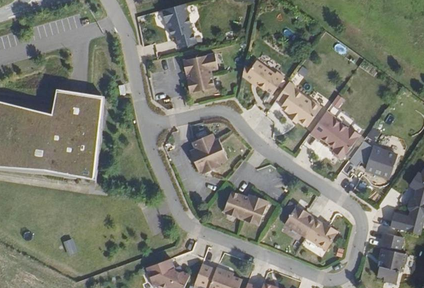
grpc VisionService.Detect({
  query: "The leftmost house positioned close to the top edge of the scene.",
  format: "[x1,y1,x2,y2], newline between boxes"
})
[160,4,199,51]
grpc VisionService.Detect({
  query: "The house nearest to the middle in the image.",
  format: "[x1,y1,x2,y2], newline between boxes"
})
[190,133,226,177]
